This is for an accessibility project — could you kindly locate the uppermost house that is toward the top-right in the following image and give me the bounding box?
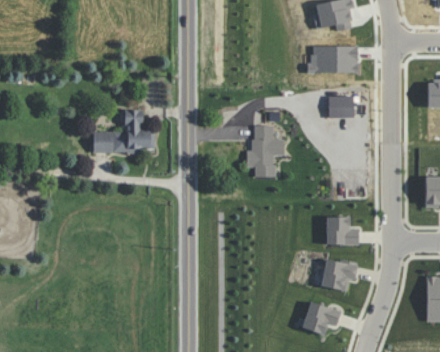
[317,0,356,26]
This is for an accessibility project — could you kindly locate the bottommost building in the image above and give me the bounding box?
[304,302,342,337]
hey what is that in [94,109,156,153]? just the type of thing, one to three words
house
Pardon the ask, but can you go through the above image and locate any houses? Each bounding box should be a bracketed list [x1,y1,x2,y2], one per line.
[428,78,440,107]
[428,276,440,322]
[322,260,360,292]
[317,0,356,26]
[248,125,285,178]
[426,176,440,209]
[94,109,156,153]
[304,302,342,337]
[308,46,364,72]
[328,216,360,245]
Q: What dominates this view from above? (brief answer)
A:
grass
